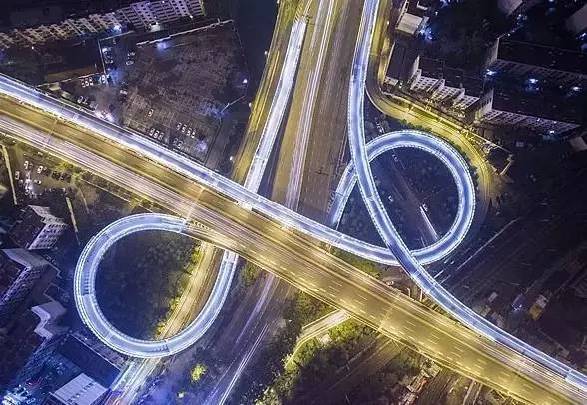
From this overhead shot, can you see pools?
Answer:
No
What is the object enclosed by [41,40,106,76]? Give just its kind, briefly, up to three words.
building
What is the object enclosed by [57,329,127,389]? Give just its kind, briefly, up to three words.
building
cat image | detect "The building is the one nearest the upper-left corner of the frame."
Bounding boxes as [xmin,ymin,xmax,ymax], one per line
[0,0,84,56]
